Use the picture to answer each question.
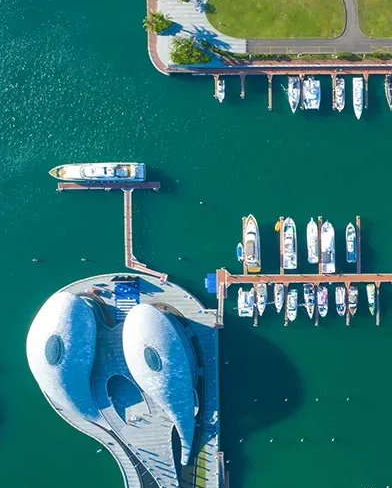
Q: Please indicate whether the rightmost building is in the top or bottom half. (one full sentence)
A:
The rightmost building is in the bottom half of the image.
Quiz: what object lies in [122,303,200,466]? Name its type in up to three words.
building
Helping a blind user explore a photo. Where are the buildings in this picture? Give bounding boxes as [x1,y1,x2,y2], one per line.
[25,291,113,431]
[122,303,200,466]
